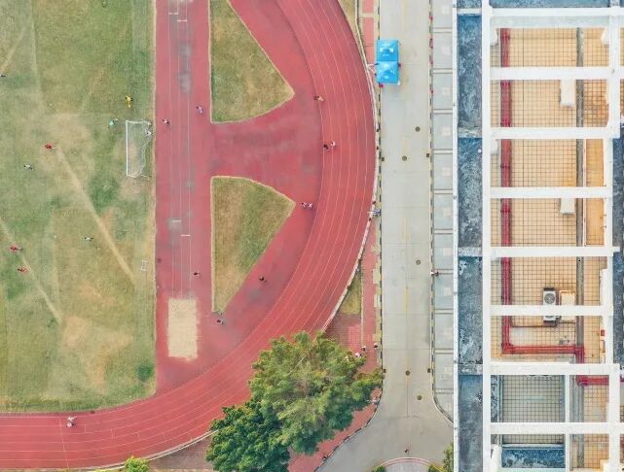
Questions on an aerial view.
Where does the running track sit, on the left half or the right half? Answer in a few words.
left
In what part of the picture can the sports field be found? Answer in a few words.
left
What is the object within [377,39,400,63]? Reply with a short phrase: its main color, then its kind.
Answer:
blue tent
